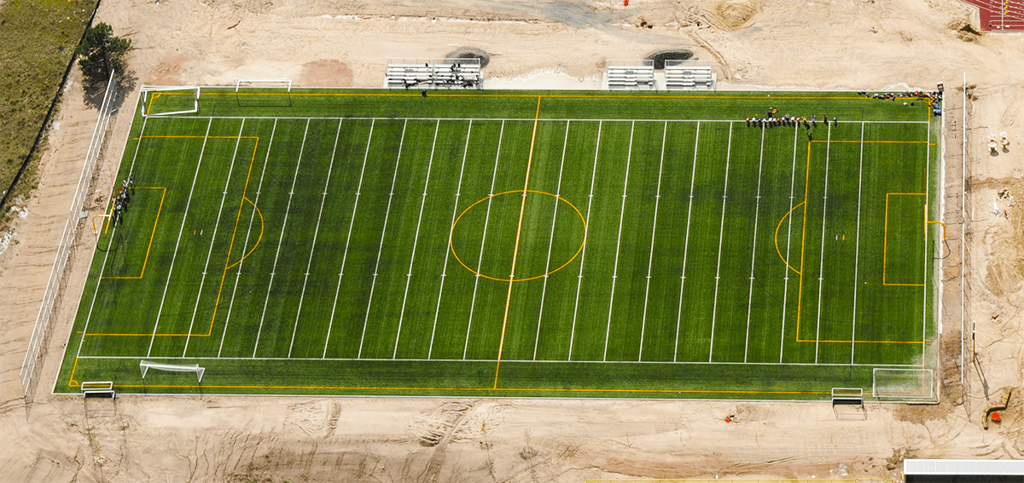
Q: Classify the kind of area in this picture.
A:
sports ground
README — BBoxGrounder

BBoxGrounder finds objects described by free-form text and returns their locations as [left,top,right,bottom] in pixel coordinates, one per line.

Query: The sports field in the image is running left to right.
[52,85,944,403]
